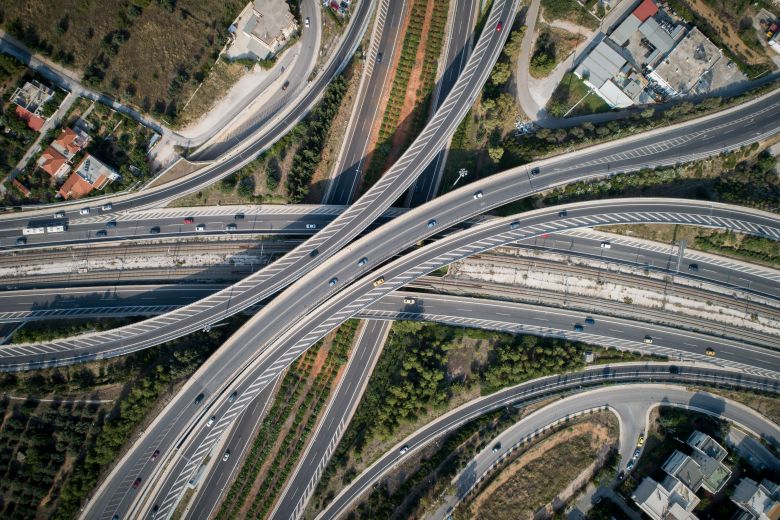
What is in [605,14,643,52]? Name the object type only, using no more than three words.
building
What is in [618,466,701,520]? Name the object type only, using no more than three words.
building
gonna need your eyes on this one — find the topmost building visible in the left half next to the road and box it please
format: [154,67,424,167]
[242,0,302,65]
